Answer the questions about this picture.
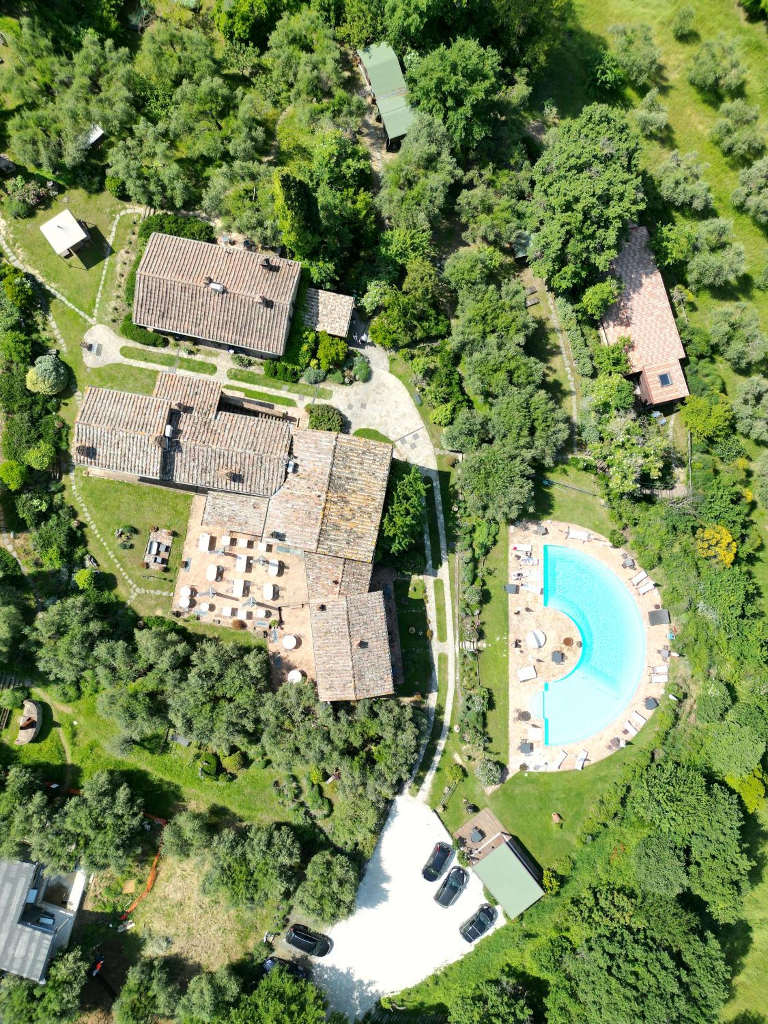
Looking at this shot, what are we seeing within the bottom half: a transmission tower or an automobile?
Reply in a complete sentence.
The one visible within the bottom half is an automobile.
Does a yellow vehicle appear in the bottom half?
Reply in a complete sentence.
No, in the bottom half there is no yellow vehicle.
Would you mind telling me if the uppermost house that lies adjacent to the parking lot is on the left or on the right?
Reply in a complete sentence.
The uppermost house that lies adjacent to the parking lot sits on the left side.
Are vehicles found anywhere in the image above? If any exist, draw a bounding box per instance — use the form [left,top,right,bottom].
[459,899,497,946]
[433,863,468,911]
[285,920,335,956]
[420,838,455,883]
[260,949,309,980]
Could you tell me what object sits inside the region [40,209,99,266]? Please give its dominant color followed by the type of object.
white gazebo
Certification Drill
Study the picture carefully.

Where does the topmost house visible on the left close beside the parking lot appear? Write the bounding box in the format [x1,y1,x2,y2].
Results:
[72,371,395,702]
